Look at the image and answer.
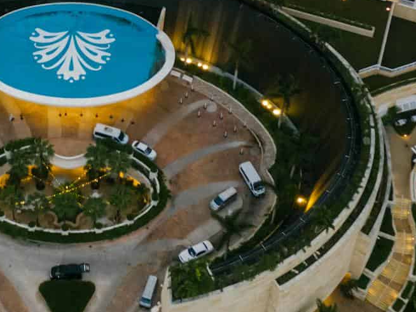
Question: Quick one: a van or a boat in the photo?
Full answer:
I can see a van in this picture.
